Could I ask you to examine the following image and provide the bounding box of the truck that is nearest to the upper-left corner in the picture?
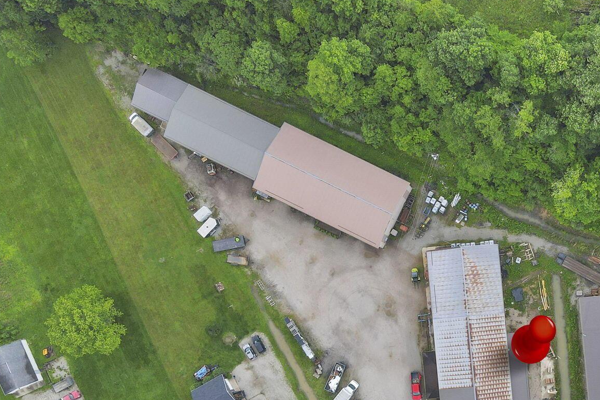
[131,113,158,140]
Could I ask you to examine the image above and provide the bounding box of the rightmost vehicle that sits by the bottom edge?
[410,370,423,400]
